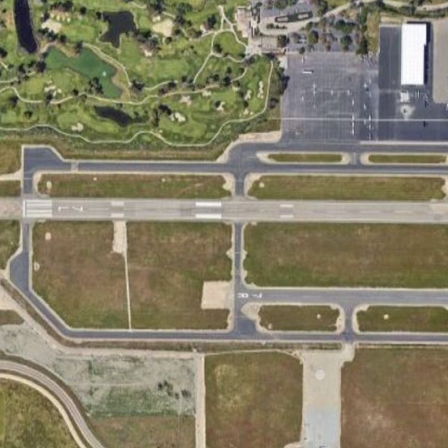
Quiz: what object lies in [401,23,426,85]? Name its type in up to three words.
hangar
